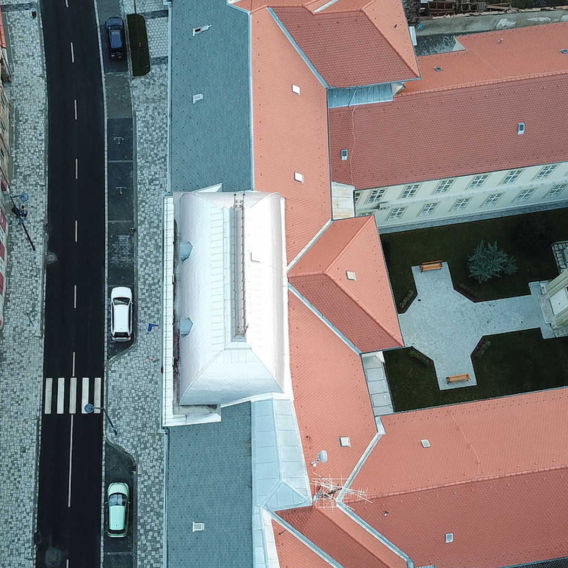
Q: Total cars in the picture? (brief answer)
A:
3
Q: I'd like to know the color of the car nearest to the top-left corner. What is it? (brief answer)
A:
blue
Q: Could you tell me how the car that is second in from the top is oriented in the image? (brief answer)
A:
up and down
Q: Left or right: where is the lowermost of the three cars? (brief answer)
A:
left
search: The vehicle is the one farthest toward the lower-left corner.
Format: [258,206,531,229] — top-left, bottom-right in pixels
[105,484,132,538]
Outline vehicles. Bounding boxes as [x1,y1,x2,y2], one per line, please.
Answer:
[108,291,134,343]
[103,18,127,60]
[105,484,132,538]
